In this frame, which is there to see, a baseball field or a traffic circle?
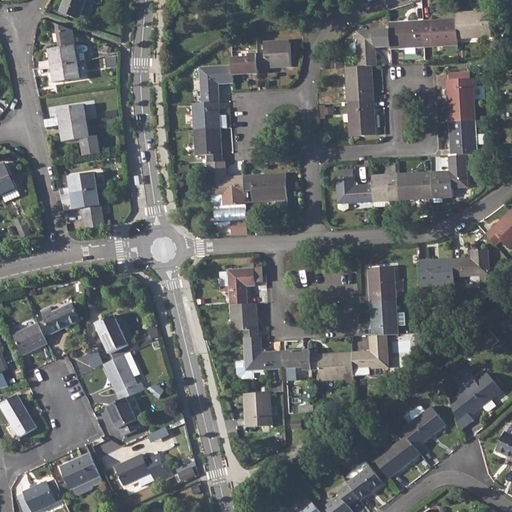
traffic circle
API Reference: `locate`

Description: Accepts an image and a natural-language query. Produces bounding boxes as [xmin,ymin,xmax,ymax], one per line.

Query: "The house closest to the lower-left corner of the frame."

[17,482,54,512]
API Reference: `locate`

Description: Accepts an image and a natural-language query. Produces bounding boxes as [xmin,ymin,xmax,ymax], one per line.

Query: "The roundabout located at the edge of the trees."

[130,216,190,280]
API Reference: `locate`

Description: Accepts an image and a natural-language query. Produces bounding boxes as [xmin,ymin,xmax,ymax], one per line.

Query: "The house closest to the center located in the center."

[219,266,268,304]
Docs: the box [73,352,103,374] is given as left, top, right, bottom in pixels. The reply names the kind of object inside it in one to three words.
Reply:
shed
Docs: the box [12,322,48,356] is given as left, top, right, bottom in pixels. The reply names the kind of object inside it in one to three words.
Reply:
house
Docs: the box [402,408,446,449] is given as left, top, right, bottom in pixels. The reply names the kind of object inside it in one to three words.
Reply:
house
